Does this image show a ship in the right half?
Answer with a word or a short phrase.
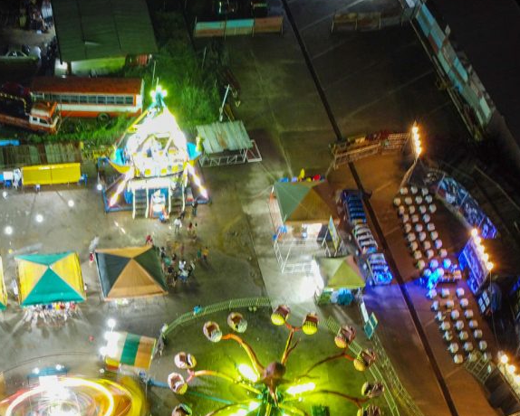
No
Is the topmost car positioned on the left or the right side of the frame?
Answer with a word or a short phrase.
left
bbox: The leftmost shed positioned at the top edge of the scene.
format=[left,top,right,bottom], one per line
[54,0,157,79]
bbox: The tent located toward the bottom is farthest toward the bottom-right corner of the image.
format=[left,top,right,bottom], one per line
[306,255,365,306]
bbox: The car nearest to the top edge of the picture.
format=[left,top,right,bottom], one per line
[0,43,38,63]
